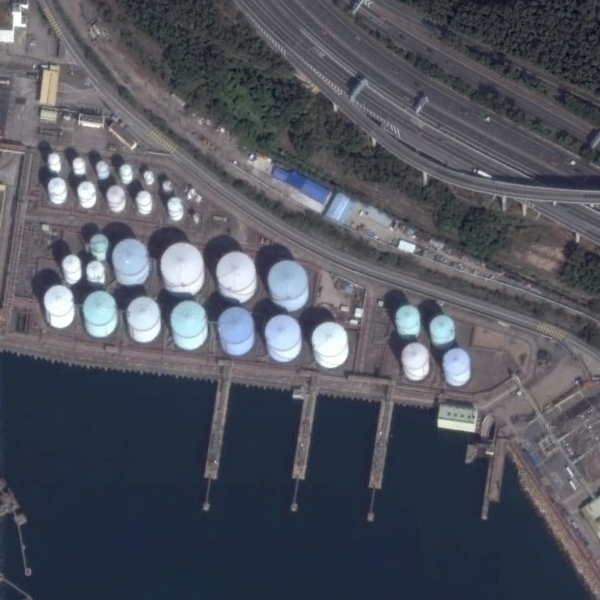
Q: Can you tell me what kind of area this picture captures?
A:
industrial area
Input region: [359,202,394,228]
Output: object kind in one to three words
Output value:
shed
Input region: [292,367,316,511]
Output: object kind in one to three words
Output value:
pier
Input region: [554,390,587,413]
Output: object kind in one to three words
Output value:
building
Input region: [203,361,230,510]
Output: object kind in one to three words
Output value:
pier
